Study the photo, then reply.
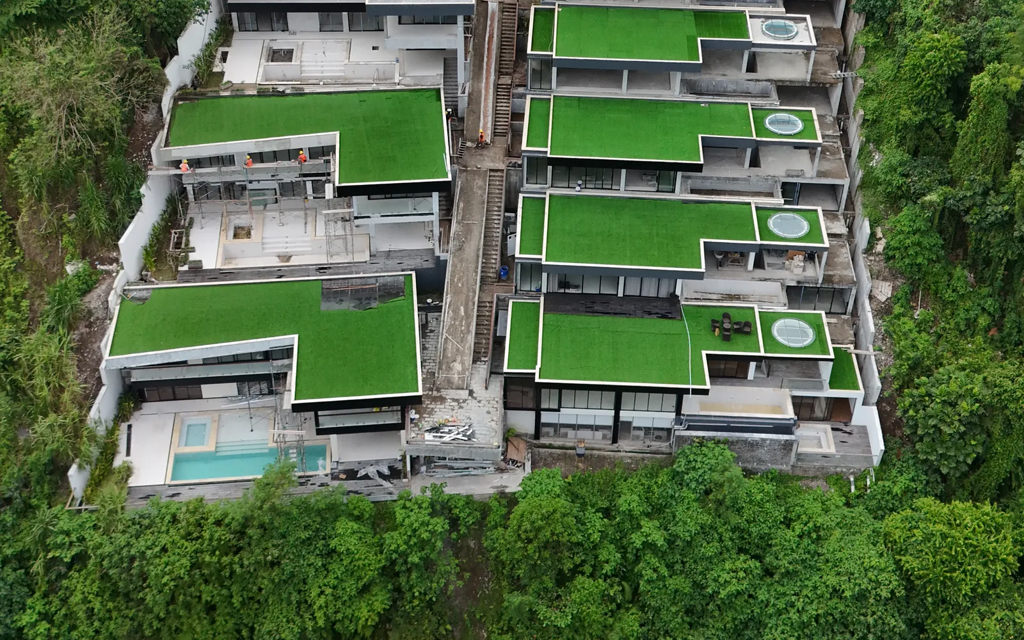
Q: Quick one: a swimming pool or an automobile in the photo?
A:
swimming pool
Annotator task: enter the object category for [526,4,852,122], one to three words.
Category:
house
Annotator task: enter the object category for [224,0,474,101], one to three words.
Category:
house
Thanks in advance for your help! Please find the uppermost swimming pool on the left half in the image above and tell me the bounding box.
[260,40,399,85]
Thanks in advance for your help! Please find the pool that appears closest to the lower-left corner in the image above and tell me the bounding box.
[168,409,335,486]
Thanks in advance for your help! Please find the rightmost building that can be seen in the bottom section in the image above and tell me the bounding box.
[503,296,881,488]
